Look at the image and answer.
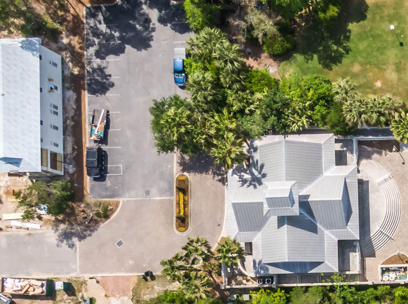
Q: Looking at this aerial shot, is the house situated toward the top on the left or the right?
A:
left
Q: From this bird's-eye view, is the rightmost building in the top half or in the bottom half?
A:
bottom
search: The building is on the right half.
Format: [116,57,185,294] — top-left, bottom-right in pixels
[228,133,359,273]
